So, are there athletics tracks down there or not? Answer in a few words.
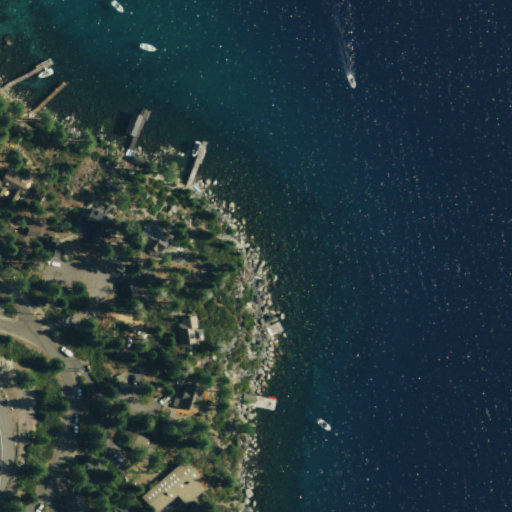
No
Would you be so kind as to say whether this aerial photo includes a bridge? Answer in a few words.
No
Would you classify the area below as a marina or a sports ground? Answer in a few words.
marina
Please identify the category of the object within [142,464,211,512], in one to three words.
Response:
building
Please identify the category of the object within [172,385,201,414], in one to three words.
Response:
house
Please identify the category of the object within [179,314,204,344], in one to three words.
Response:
house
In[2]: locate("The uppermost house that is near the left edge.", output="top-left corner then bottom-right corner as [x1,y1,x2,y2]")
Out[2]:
[2,174,34,200]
